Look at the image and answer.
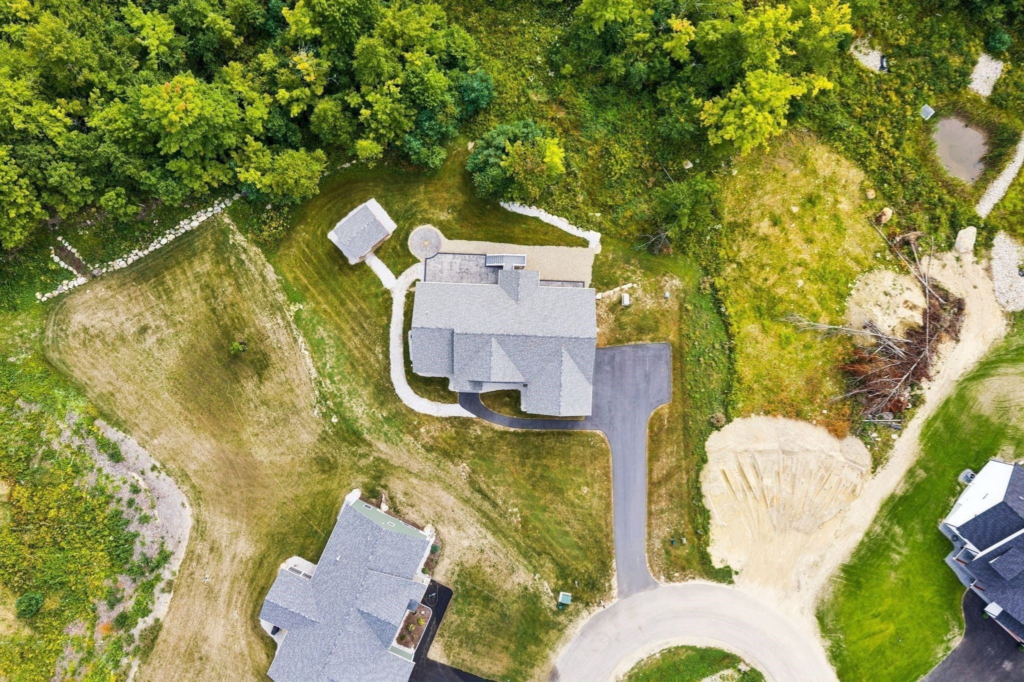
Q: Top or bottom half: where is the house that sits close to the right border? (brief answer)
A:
bottom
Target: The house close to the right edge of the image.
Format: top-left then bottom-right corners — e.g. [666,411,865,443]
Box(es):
[940,460,1024,642]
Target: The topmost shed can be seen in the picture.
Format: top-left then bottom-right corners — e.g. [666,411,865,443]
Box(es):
[334,205,389,259]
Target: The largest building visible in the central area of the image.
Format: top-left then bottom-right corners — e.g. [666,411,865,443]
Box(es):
[411,269,597,416]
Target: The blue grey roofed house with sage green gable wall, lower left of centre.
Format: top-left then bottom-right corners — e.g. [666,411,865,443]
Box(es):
[259,498,431,682]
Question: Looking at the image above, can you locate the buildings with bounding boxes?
[334,205,389,259]
[411,269,597,416]
[940,460,1024,642]
[259,498,431,682]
